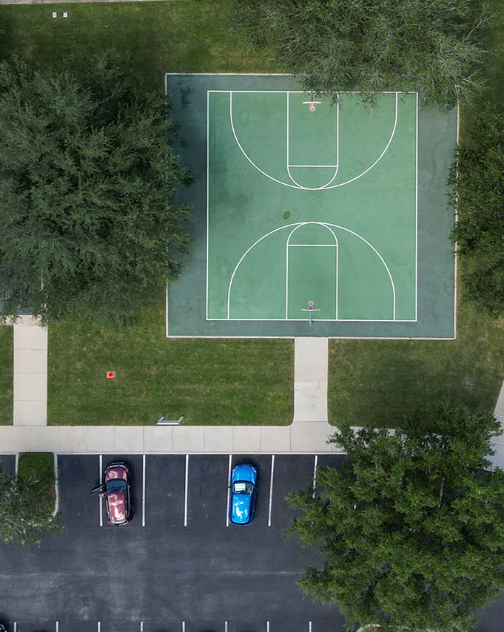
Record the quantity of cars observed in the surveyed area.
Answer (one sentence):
The number of cars here is 2.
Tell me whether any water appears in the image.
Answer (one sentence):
No, no water is visible.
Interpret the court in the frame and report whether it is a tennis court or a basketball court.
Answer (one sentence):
In the photo, the court shows up as a basketball court.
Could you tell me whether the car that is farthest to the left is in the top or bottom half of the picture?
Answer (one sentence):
The car that is farthest to the left sits in the bottom half of the picture.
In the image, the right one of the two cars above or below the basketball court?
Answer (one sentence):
In the image, the right one of the two cars sits below the basketball court.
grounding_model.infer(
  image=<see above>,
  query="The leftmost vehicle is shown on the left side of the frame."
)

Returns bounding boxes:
[90,464,133,528]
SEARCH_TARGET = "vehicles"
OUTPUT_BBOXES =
[90,464,133,528]
[229,467,258,527]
